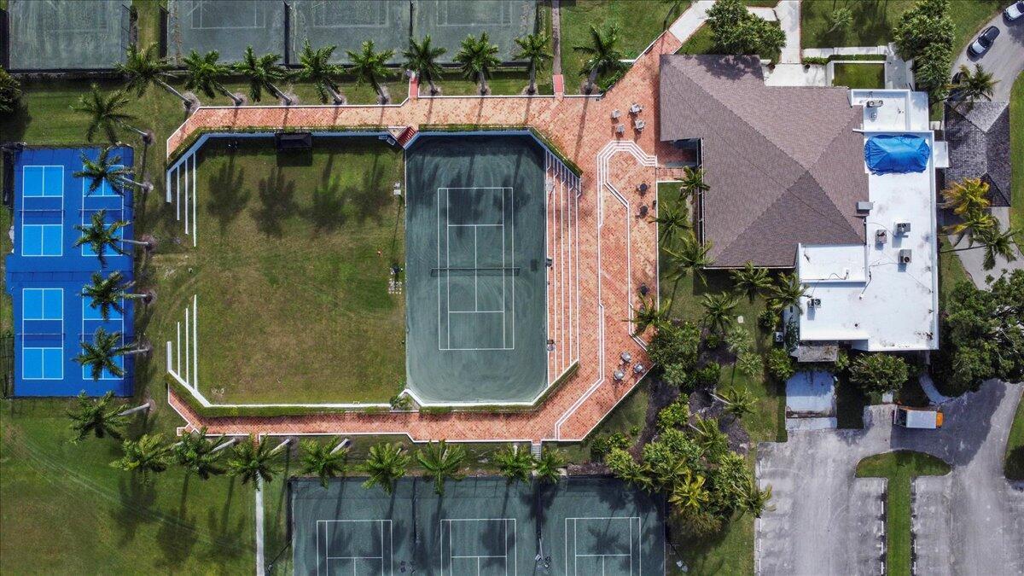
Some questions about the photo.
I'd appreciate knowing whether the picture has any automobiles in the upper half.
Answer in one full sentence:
Yes, there is an automobile in the upper half.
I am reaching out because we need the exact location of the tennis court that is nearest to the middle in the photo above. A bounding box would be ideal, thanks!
[406,134,547,404]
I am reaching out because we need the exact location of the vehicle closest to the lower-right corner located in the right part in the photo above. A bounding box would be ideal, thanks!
[892,408,943,429]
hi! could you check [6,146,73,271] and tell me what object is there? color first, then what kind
blue sports court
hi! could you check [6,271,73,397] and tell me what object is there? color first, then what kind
blue sports court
